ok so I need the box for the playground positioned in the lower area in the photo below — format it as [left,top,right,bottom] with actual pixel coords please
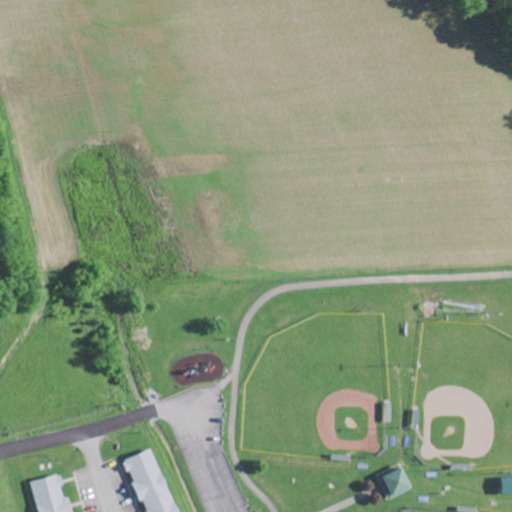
[171,353,224,386]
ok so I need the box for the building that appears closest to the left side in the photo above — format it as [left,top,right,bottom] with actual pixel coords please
[30,474,73,512]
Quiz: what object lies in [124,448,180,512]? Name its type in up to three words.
building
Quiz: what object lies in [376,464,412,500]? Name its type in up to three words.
building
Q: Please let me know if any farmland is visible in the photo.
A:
Yes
